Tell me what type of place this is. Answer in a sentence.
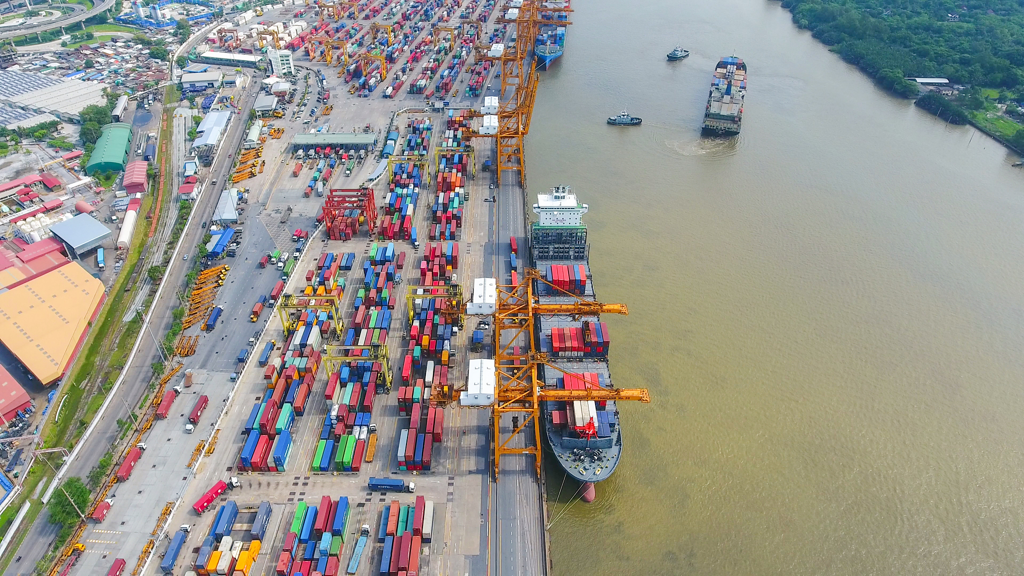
The area seen from above is a port.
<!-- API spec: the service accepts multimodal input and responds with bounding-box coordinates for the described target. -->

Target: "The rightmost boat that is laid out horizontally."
[666,45,693,59]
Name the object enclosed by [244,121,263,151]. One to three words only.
shed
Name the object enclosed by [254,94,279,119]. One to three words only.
house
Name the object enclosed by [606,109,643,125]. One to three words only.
boat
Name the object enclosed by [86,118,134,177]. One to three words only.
building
